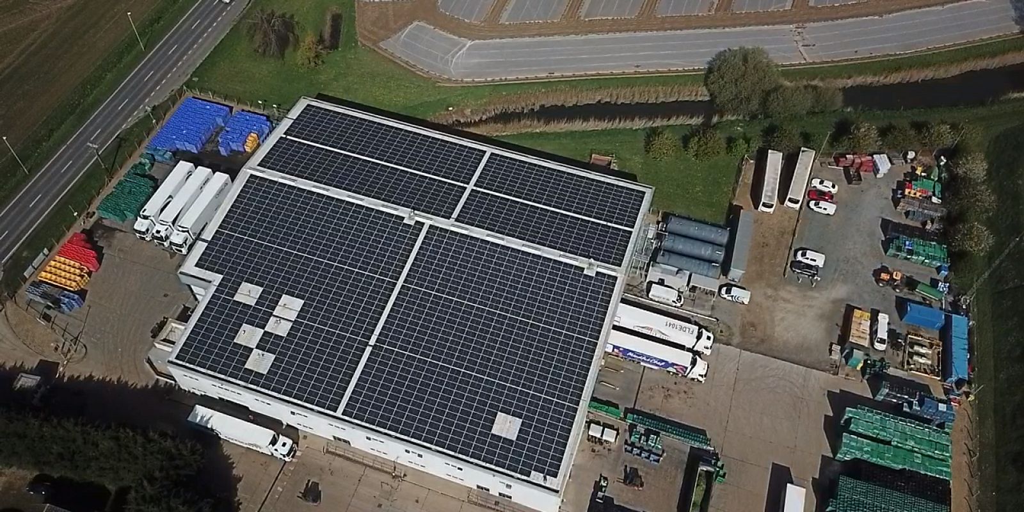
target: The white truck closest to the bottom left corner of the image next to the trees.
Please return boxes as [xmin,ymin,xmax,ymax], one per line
[190,404,298,459]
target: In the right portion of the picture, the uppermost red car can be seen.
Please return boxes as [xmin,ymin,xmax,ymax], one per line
[809,191,835,204]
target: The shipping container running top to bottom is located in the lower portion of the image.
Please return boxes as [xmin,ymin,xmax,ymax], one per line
[943,313,969,395]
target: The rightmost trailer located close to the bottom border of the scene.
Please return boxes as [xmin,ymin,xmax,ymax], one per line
[778,482,805,512]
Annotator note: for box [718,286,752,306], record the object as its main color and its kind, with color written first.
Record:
white vehicle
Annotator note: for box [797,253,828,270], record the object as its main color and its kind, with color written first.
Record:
white vehicle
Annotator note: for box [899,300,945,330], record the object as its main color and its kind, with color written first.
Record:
blue shipping container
